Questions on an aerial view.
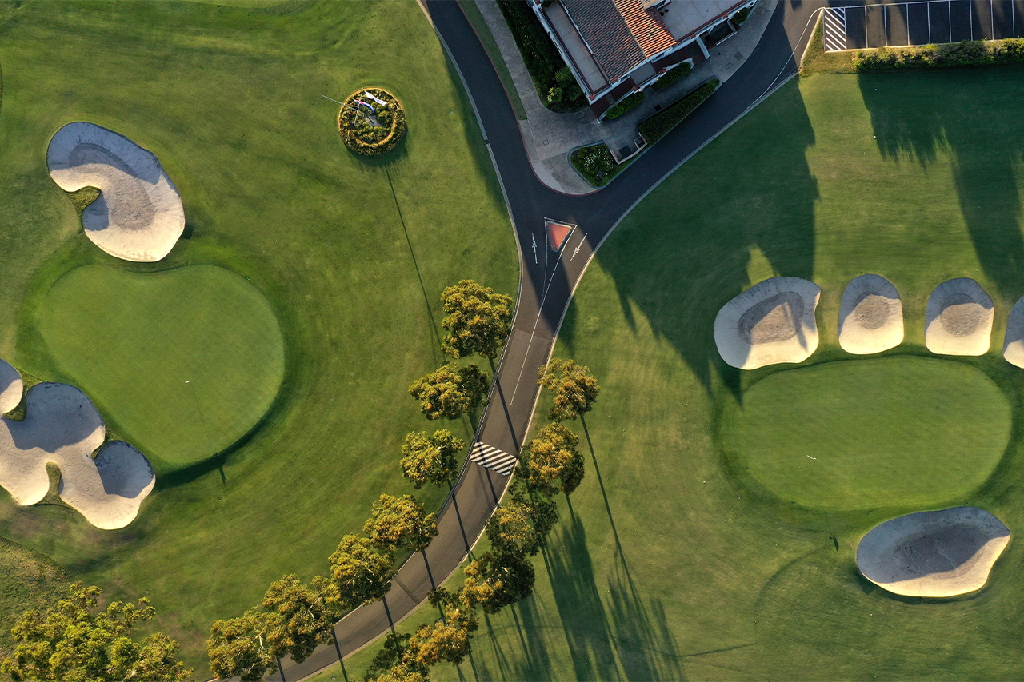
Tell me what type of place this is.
golf course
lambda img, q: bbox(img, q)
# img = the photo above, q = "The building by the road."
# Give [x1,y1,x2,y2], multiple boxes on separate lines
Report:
[528,0,760,122]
